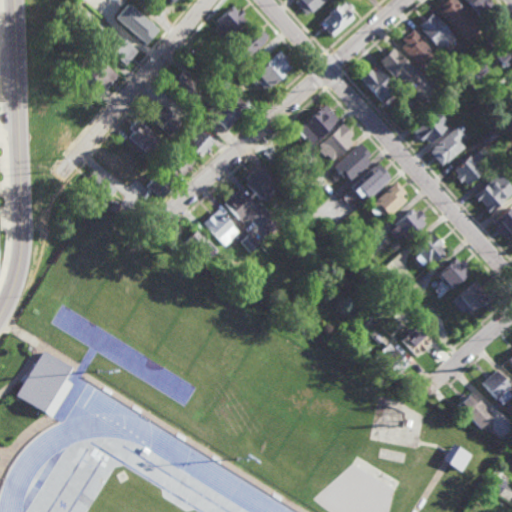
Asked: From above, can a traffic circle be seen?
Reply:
No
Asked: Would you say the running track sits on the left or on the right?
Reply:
left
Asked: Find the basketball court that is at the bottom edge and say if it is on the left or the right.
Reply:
right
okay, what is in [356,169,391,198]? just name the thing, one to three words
house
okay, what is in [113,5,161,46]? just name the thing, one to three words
house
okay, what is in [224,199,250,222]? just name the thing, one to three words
building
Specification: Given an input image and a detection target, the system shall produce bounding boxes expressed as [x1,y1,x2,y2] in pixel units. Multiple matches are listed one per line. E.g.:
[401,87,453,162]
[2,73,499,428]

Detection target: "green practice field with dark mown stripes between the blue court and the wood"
[65,262,372,505]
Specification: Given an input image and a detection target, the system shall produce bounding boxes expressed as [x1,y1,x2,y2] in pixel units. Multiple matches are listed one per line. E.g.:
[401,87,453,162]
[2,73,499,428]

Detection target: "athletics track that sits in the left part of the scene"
[0,374,298,512]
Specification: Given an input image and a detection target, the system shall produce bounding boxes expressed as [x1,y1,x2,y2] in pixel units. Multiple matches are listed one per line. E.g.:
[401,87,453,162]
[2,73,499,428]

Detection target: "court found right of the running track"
[314,456,399,512]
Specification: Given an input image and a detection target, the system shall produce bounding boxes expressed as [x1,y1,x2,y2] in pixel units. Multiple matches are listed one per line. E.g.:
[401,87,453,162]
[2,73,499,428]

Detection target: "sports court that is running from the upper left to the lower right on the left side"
[52,306,196,406]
